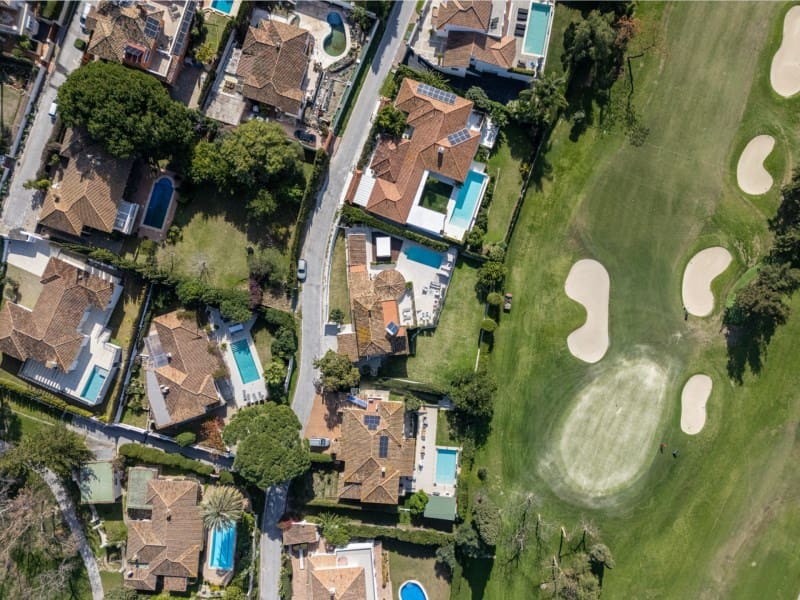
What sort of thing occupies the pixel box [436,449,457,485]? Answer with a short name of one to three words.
swimming pool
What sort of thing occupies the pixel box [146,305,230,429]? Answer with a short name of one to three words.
house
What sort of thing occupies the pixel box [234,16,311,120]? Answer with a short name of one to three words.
house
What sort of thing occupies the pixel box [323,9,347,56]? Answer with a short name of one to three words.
swimming pool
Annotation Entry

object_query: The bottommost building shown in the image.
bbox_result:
[306,540,375,600]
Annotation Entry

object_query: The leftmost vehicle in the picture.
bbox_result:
[48,102,61,122]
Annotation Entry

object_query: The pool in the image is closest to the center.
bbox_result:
[402,244,445,270]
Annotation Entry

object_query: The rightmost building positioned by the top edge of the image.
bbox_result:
[438,0,516,77]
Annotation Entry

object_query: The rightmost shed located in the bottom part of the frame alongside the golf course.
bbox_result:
[424,494,456,520]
